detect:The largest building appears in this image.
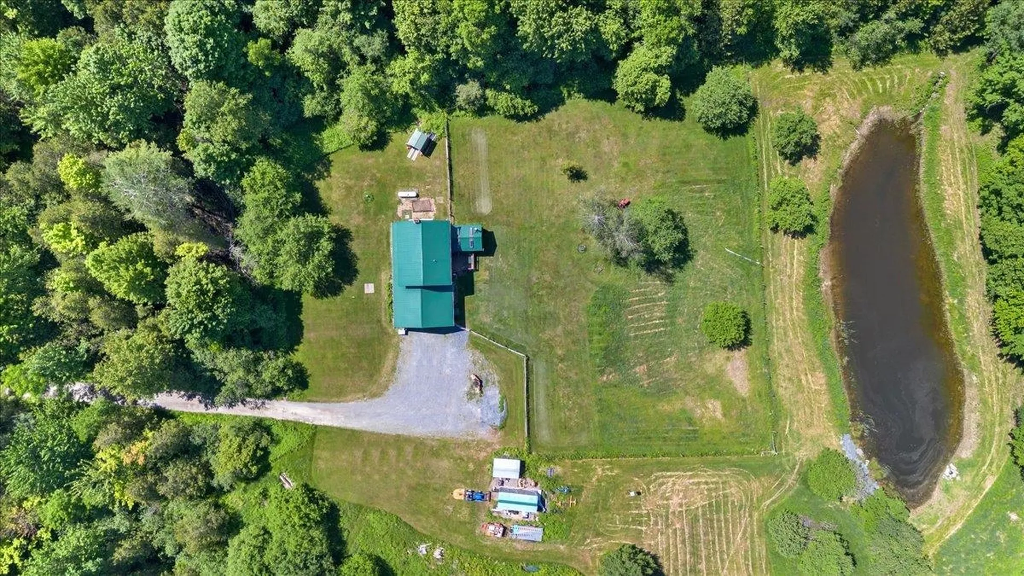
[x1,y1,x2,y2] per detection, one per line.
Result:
[391,215,484,329]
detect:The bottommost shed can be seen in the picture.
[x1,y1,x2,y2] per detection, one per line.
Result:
[496,487,545,517]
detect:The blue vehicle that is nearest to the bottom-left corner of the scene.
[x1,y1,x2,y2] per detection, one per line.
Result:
[468,490,493,504]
